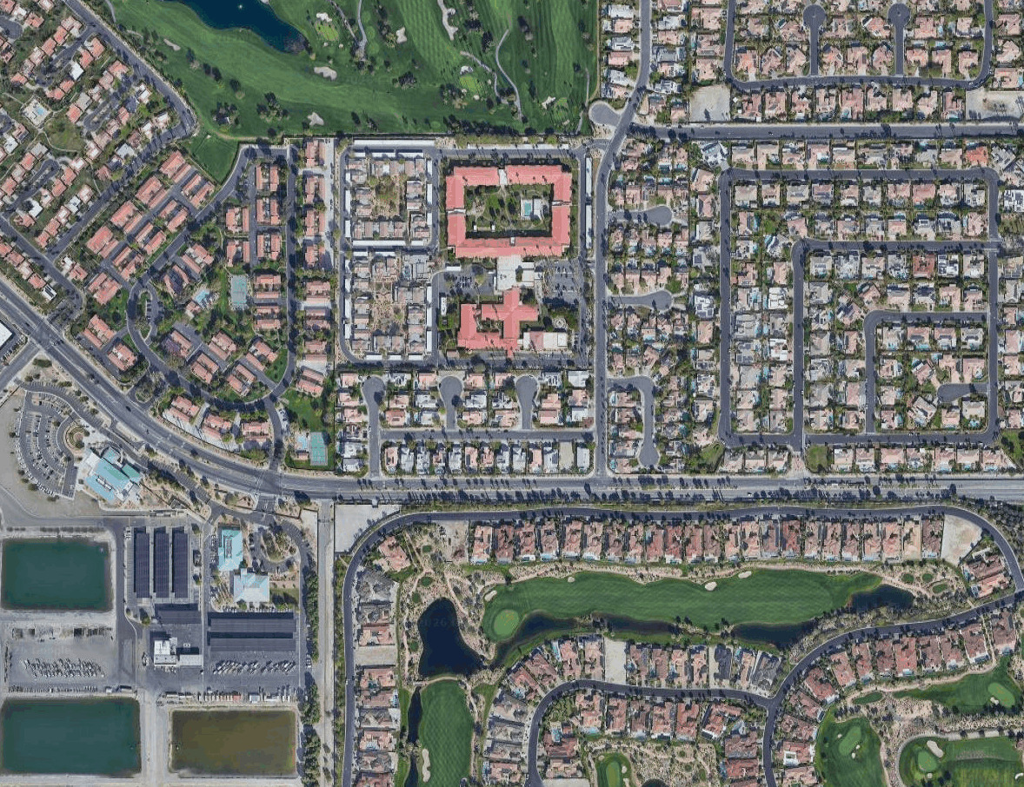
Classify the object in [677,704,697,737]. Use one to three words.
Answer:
house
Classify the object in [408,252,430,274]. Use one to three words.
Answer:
building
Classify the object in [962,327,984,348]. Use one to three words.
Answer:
house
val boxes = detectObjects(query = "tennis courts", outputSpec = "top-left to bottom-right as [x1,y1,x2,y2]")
[310,431,327,465]
[231,274,247,309]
